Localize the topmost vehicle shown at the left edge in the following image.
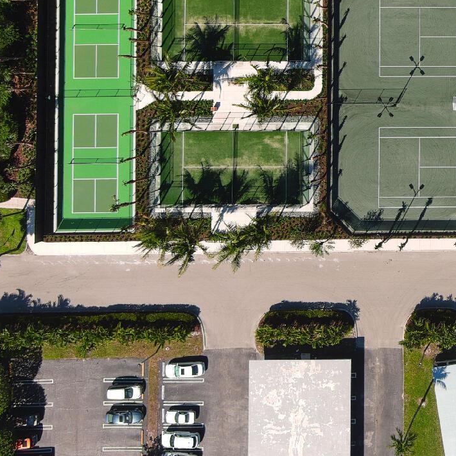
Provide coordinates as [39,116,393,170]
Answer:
[10,413,46,431]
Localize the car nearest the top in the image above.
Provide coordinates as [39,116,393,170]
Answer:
[168,361,207,379]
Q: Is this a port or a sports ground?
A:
sports ground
